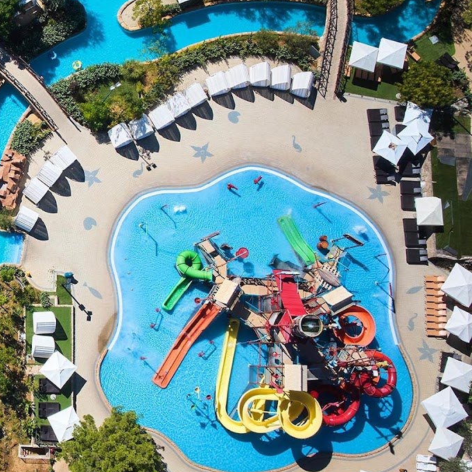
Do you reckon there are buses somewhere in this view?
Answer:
No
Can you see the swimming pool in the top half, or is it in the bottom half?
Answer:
bottom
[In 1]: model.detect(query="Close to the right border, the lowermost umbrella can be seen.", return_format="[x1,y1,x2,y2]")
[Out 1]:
[424,423,464,462]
